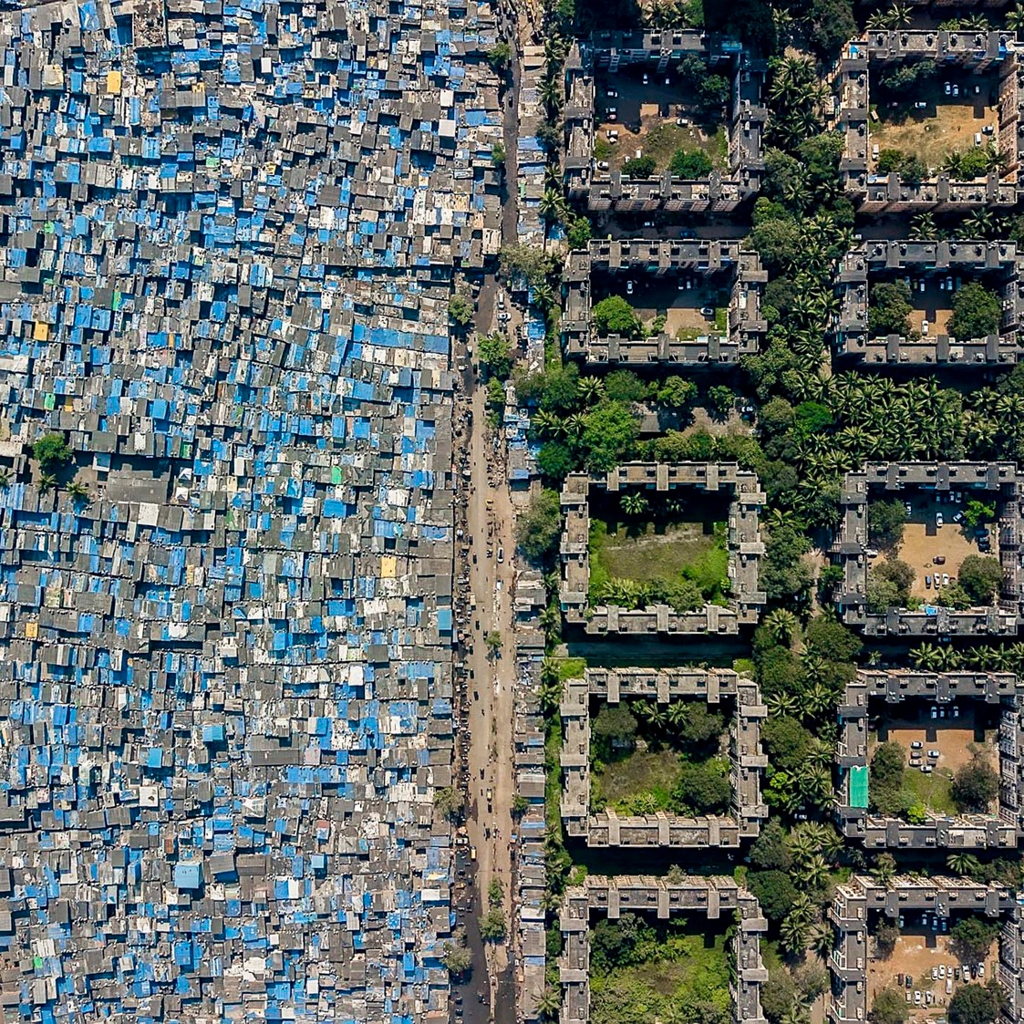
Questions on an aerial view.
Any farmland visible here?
No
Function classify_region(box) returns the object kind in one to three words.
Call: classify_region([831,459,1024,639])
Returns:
building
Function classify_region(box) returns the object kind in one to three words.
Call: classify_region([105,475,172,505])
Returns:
shed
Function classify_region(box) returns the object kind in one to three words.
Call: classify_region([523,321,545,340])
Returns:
shed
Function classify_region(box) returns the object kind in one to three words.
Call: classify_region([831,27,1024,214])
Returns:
building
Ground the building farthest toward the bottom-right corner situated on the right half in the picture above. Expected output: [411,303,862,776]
[827,875,1024,1024]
